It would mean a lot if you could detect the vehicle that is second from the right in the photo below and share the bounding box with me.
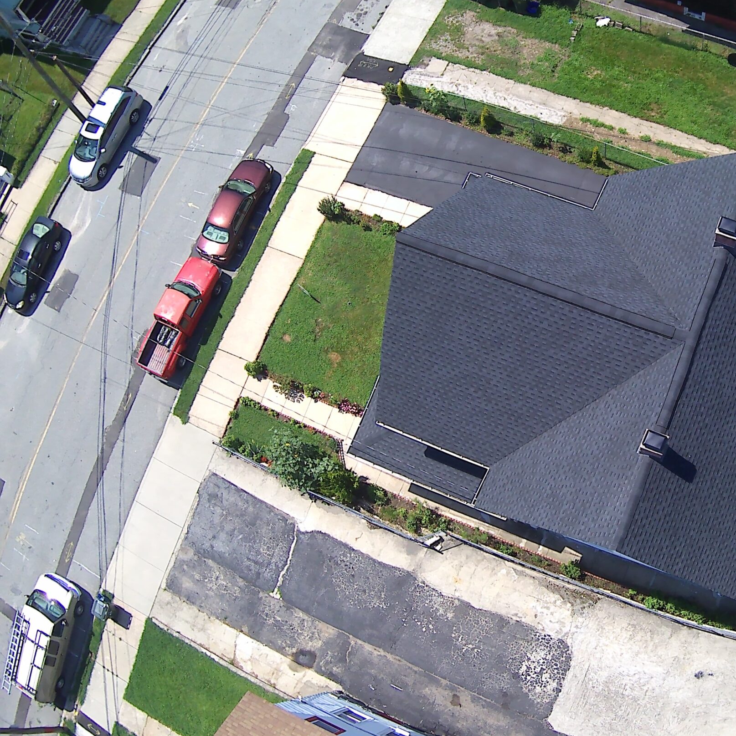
[126,256,223,381]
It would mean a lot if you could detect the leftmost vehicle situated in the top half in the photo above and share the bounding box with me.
[0,218,69,311]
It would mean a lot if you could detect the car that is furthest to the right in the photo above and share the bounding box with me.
[190,158,277,267]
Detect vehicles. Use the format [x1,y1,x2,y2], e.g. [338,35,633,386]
[190,158,277,267]
[64,81,146,188]
[126,256,223,381]
[0,578,88,709]
[0,218,69,311]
